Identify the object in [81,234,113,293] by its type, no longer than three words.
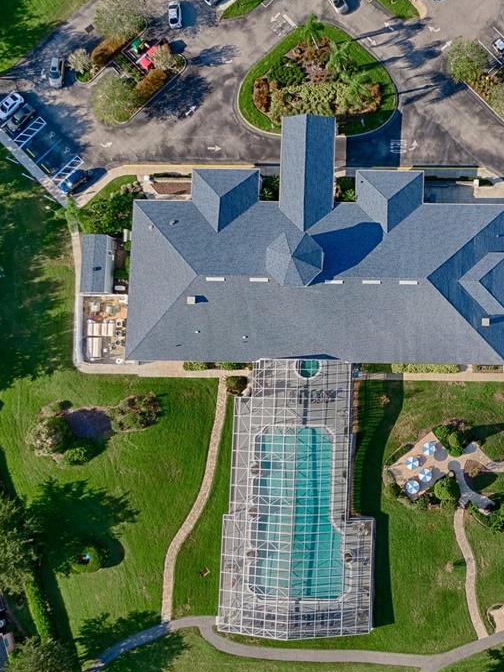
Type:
building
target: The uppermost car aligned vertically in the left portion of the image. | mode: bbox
[167,0,182,30]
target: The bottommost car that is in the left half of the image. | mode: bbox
[59,168,90,194]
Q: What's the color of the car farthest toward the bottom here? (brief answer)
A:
blue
